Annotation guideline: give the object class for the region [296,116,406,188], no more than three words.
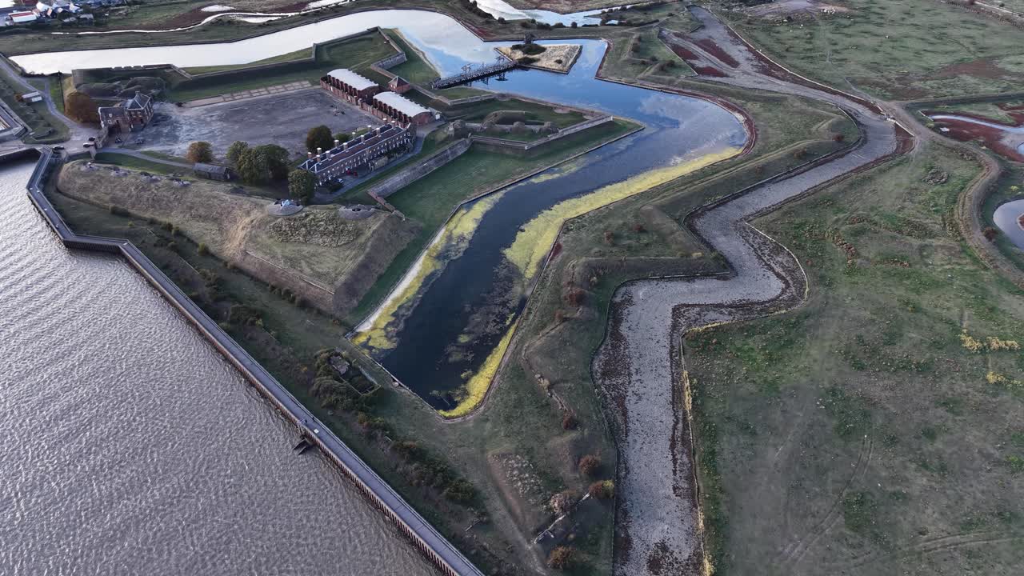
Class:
building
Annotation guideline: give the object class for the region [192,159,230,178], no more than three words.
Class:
shed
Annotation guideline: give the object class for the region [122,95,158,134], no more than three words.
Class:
house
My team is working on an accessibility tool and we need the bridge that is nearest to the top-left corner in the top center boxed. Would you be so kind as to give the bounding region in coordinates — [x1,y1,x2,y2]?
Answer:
[430,56,518,88]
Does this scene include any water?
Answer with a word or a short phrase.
Yes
